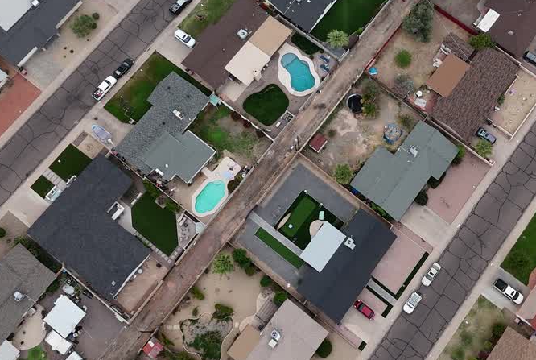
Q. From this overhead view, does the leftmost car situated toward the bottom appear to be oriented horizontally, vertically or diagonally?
diagonally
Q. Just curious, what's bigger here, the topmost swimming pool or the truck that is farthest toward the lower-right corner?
the swimming pool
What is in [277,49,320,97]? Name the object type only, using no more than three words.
swimming pool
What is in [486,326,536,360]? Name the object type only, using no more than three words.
house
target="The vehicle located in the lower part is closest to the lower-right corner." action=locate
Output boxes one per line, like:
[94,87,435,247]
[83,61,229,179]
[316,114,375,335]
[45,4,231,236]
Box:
[493,280,522,304]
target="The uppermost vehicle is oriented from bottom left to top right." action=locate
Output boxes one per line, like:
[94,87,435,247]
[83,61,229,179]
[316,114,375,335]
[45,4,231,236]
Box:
[169,0,192,15]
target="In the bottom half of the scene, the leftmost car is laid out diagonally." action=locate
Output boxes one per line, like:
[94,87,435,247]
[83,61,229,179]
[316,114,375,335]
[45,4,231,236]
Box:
[353,299,375,321]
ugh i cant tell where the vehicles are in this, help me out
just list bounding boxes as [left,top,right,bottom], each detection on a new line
[476,127,497,145]
[493,280,522,304]
[114,58,134,78]
[402,290,421,315]
[524,52,536,67]
[92,76,117,101]
[421,262,440,287]
[353,299,375,321]
[175,29,195,48]
[169,0,192,15]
